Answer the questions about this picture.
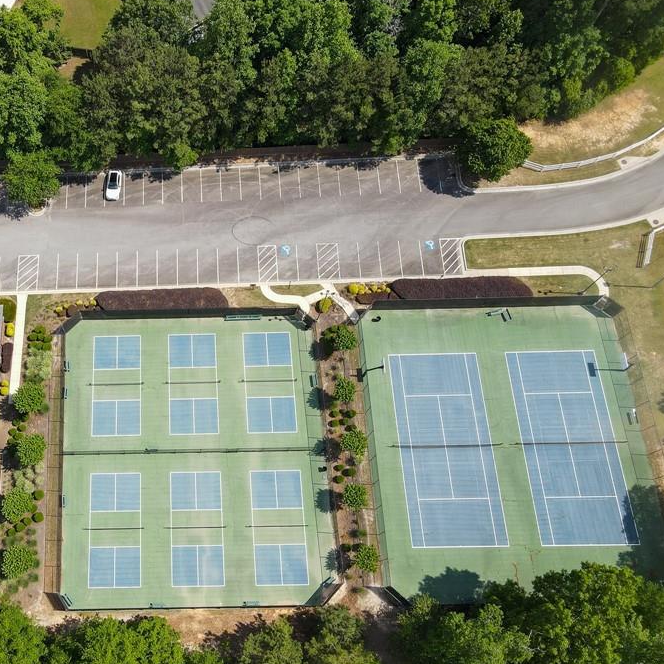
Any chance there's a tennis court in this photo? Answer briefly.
Yes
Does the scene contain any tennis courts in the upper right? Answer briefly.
No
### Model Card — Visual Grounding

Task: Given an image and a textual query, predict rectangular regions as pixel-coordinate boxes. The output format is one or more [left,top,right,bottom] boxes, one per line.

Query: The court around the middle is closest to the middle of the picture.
[242,332,298,434]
